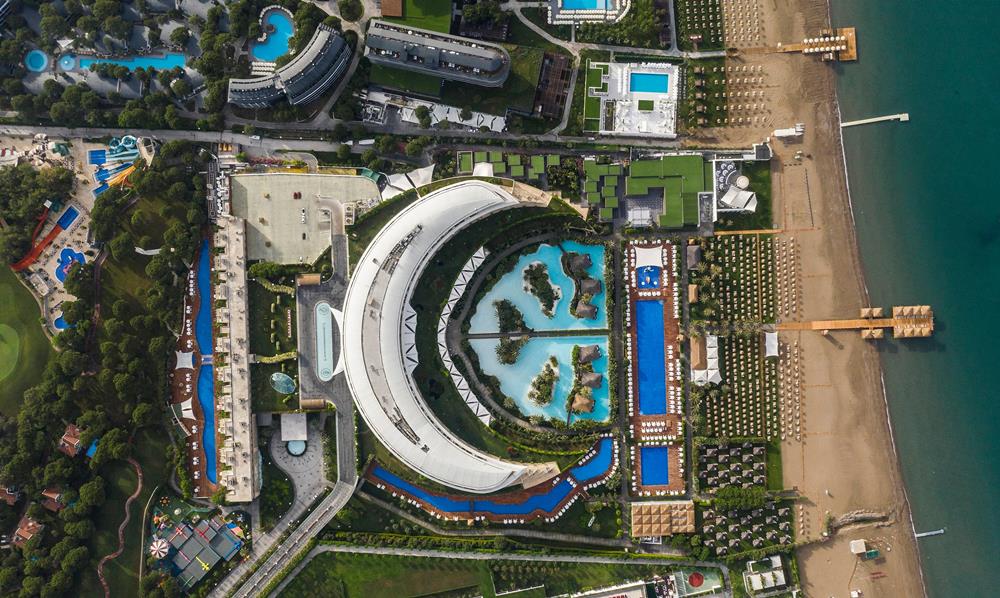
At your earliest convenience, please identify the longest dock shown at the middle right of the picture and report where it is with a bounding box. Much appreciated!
[776,306,934,339]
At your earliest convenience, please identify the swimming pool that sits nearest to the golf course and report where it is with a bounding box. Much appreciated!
[54,316,74,330]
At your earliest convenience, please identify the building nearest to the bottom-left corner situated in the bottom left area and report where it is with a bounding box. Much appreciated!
[12,516,46,552]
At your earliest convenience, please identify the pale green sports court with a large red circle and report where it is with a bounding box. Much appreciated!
[675,571,723,598]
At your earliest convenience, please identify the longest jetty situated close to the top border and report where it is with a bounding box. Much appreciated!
[728,26,856,61]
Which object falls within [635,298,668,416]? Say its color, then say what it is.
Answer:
blue swimming pool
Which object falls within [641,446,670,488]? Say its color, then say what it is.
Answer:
blue swimming pool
